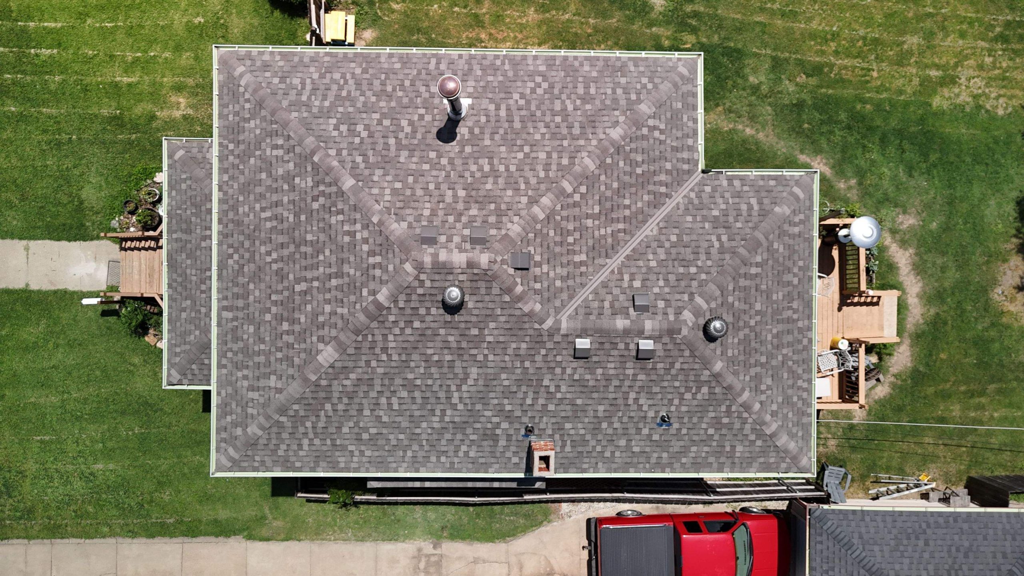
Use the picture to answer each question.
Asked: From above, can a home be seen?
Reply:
Yes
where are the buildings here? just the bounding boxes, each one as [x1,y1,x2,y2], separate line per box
[793,499,1024,576]
[163,45,819,487]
